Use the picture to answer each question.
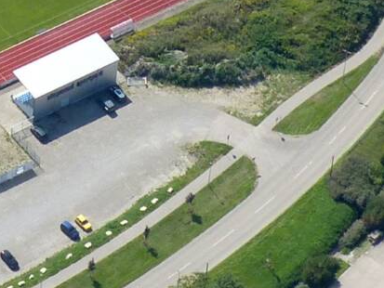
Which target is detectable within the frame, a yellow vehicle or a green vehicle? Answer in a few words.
yellow vehicle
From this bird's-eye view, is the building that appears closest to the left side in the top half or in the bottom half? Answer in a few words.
top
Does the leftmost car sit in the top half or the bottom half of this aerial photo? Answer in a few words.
bottom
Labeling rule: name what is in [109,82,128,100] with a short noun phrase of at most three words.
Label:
car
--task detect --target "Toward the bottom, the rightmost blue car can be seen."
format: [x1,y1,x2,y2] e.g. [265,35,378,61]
[60,220,80,241]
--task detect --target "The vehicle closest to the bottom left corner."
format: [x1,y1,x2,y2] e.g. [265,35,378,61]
[0,250,20,271]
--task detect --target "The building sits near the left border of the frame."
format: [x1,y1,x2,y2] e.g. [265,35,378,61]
[8,34,117,119]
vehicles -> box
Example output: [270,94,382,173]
[109,82,128,100]
[0,250,20,271]
[95,93,115,116]
[60,220,80,241]
[29,122,49,142]
[74,214,94,232]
